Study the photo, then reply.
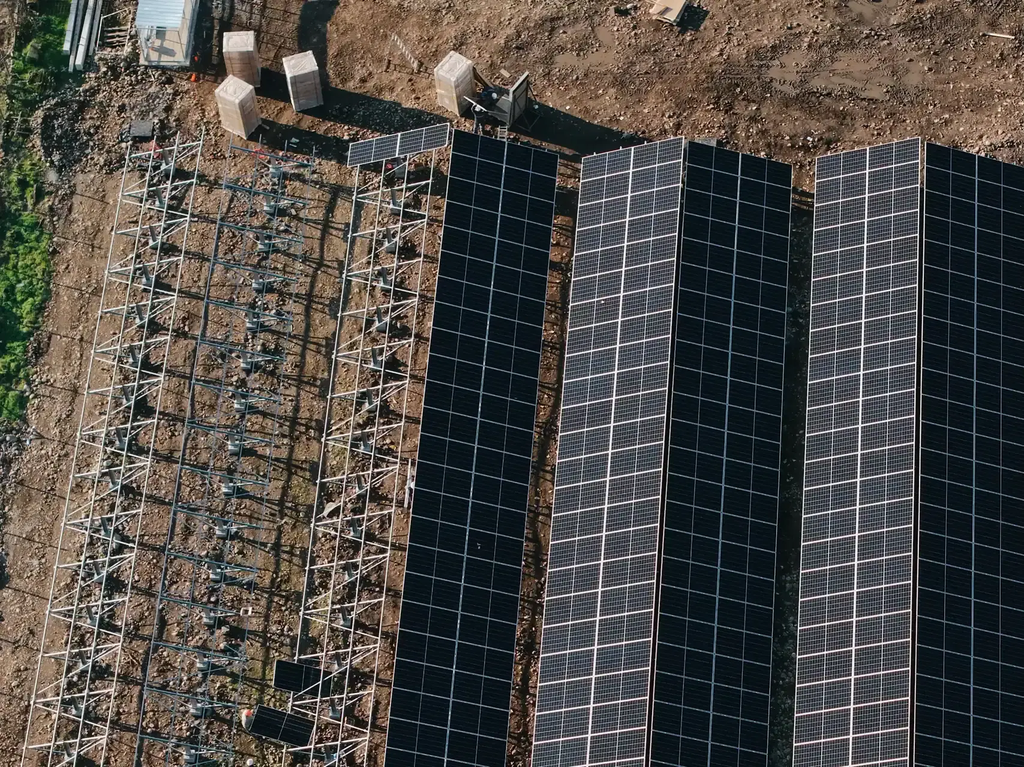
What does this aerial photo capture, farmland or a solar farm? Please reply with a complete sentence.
It's a solar farm.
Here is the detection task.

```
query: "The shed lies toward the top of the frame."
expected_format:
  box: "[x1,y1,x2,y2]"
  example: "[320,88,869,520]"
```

[127,0,208,69]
